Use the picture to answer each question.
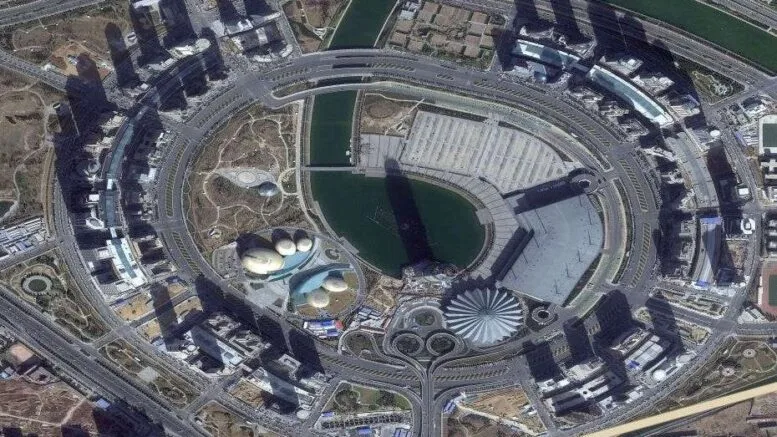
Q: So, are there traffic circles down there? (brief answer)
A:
No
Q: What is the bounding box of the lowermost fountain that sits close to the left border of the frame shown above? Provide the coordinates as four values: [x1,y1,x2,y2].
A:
[27,278,47,291]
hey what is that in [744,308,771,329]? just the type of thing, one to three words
building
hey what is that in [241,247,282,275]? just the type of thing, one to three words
building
